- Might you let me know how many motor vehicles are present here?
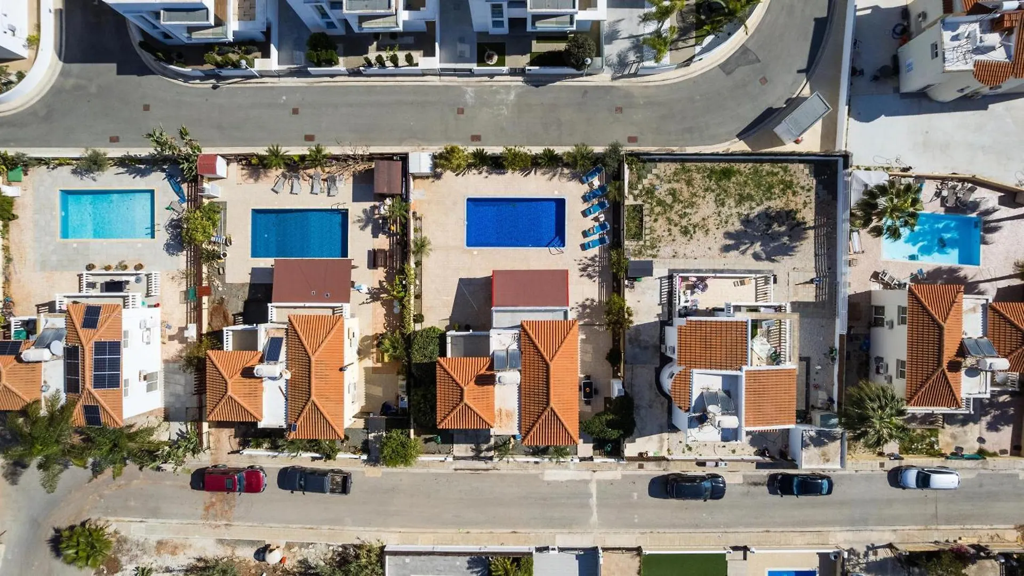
5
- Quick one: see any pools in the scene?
Yes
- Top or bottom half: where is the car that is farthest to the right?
bottom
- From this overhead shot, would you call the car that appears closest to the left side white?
No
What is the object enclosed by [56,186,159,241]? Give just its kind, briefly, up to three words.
swimming pool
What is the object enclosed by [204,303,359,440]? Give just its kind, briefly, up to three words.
house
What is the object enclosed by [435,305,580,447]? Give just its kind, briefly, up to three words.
house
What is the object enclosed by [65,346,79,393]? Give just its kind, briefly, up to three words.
solar panel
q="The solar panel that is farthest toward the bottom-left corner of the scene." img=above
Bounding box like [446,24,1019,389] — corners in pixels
[80,404,102,427]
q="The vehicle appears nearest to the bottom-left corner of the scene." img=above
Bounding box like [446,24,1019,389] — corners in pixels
[204,464,268,495]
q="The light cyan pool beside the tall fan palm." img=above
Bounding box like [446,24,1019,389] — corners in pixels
[879,207,985,268]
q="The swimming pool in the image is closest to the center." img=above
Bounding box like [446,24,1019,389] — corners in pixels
[464,195,568,254]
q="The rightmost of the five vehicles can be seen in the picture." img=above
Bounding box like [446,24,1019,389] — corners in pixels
[897,464,961,493]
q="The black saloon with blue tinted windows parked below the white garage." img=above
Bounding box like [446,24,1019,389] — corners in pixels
[774,470,833,499]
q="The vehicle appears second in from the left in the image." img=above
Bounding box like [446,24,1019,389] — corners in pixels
[287,467,354,497]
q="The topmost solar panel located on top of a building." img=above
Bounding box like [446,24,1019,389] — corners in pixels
[79,304,103,330]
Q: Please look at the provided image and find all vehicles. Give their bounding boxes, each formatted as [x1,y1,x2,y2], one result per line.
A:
[287,467,354,497]
[667,472,725,502]
[897,464,961,493]
[774,470,833,499]
[204,464,268,495]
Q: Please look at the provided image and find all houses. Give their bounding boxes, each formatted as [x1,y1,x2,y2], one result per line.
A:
[285,0,439,34]
[435,305,580,447]
[658,304,801,443]
[204,303,359,440]
[0,0,27,57]
[469,0,610,33]
[0,293,160,429]
[106,0,269,43]
[901,0,1024,100]
[871,284,1024,418]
